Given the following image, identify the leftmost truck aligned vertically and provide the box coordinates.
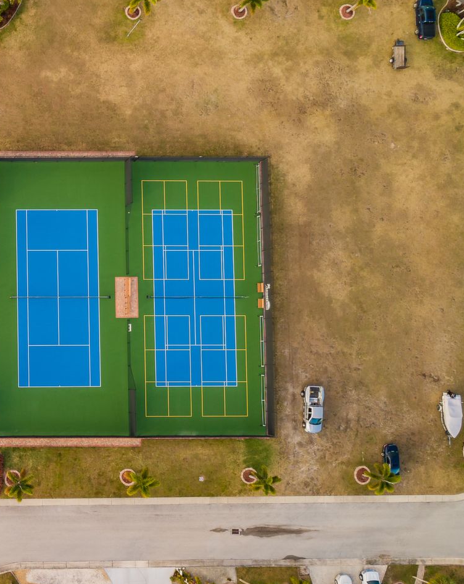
[304,386,326,432]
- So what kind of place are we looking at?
sports ground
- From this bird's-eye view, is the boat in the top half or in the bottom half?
bottom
